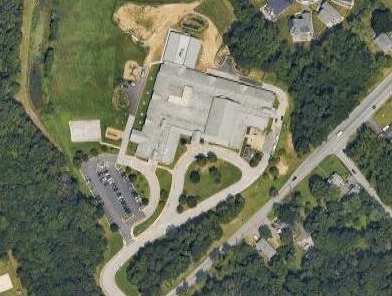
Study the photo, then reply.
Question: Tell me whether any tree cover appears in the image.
Yes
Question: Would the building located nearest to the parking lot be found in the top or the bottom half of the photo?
top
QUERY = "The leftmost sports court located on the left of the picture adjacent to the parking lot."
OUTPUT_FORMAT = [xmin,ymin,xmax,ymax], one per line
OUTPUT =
[69,120,101,142]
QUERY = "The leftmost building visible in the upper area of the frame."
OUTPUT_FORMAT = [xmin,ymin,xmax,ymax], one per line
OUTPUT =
[130,28,275,165]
